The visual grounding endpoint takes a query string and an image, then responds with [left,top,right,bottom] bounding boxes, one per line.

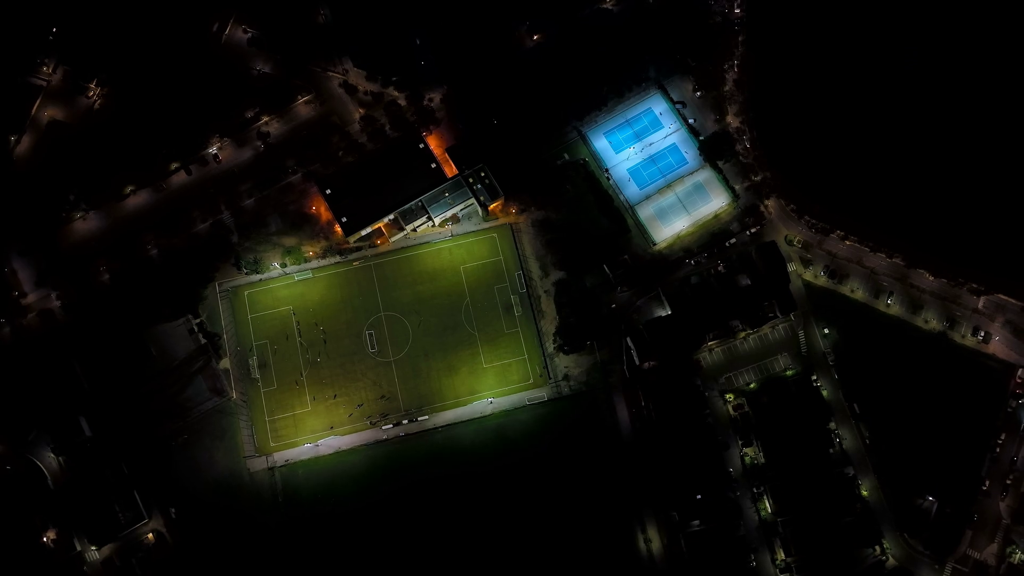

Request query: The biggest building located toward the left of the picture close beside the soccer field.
[306,122,451,243]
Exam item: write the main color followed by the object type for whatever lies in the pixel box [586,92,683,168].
blue tennis court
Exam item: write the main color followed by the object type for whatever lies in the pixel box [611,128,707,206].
blue tennis court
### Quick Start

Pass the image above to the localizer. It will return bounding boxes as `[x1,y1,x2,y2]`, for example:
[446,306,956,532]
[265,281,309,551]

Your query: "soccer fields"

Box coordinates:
[229,223,549,455]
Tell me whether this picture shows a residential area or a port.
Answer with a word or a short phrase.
residential area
